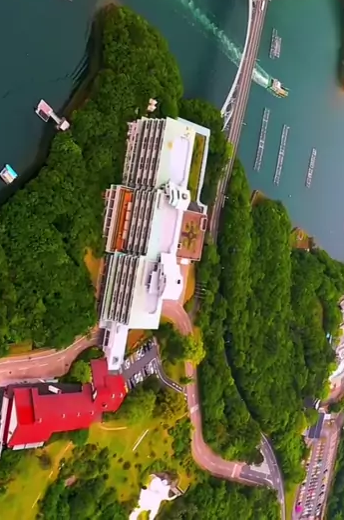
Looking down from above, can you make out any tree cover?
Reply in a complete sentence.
Yes, there's tree cover in this view.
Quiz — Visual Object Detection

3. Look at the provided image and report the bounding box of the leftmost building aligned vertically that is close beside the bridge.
[91,117,209,372]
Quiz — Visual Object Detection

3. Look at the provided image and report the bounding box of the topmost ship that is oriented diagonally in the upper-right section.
[271,75,288,96]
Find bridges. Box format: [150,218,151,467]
[214,0,269,209]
